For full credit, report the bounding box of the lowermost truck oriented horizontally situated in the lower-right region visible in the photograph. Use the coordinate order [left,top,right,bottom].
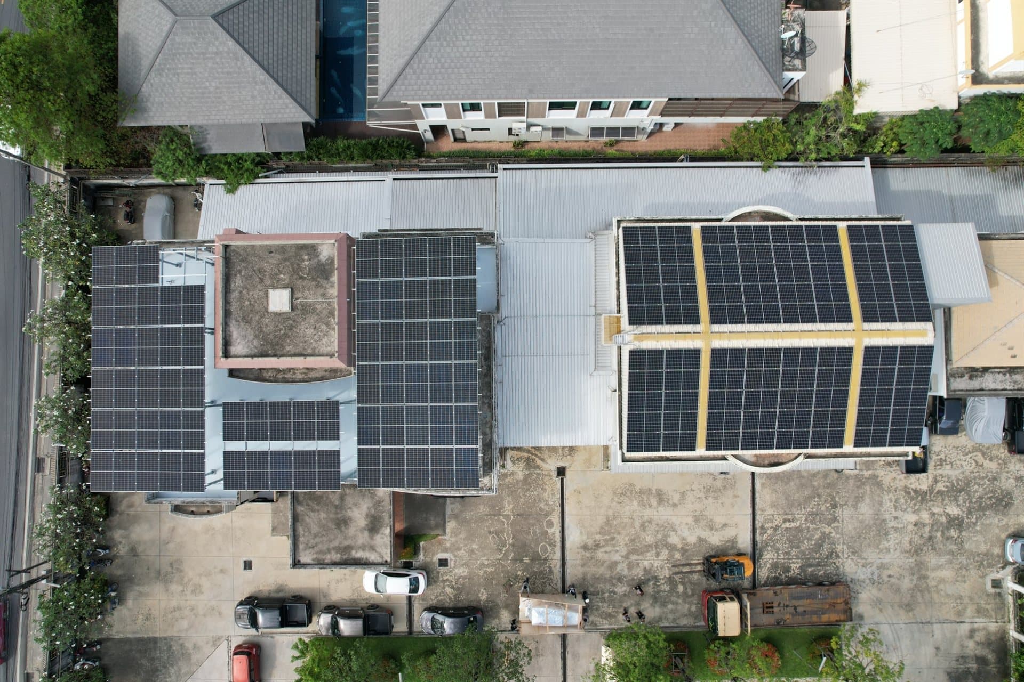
[697,580,856,641]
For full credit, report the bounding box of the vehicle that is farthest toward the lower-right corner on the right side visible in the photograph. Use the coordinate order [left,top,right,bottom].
[1000,535,1024,565]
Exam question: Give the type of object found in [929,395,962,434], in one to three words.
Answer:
car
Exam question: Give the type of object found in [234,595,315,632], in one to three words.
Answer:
truck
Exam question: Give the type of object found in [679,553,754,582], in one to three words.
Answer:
work vehicle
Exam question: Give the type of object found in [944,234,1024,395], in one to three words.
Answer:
building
